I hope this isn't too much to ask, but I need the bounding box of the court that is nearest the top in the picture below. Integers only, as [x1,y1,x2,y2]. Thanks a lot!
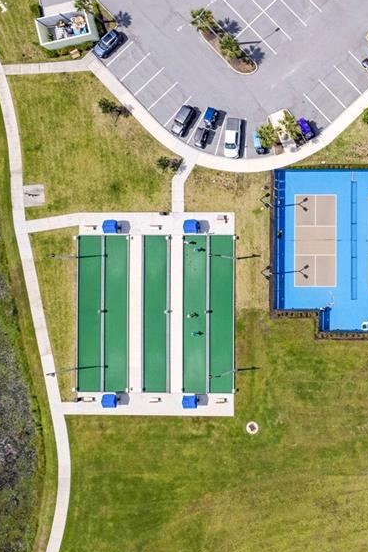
[290,195,339,287]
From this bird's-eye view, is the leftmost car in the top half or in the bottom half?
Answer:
top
